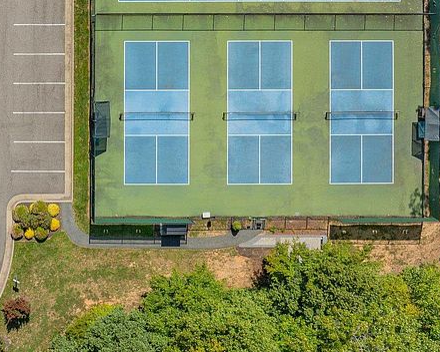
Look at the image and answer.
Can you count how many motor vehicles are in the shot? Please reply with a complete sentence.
Not a single motor vehicle can be seen.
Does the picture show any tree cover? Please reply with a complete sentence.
Yes, tree cover can be seen from above here.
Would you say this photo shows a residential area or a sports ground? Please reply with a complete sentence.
It's a sports ground.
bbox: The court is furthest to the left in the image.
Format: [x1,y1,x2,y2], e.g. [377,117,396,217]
[94,16,208,216]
